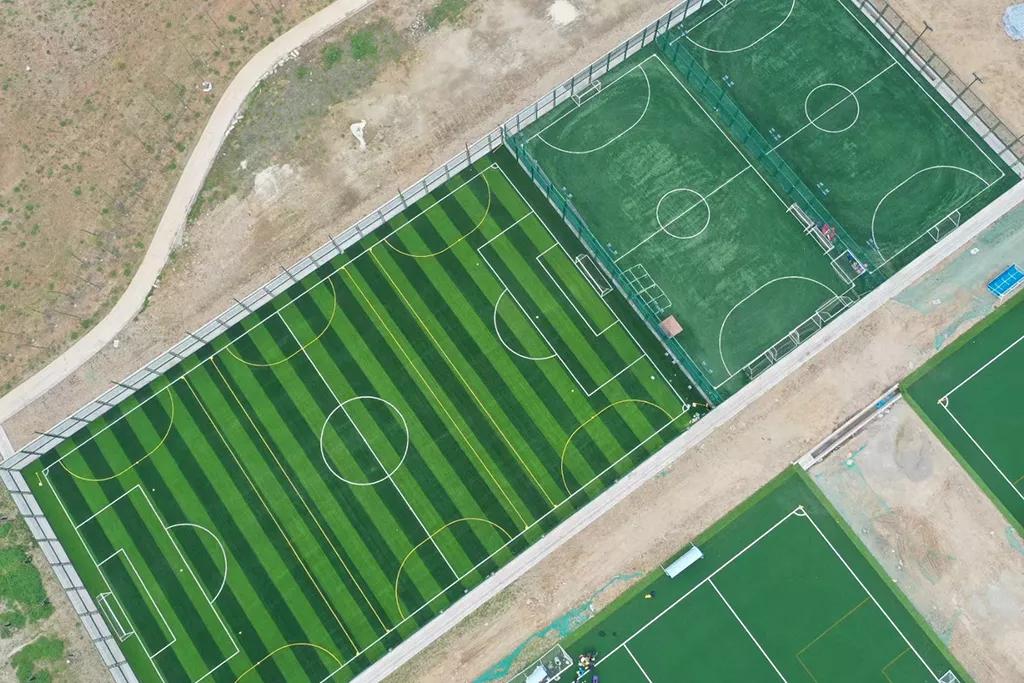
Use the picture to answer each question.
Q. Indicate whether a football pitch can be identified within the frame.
Yes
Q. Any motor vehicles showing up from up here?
No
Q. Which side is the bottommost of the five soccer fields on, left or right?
right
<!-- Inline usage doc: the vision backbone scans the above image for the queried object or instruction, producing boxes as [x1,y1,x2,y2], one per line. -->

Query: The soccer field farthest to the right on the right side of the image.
[895,286,1024,537]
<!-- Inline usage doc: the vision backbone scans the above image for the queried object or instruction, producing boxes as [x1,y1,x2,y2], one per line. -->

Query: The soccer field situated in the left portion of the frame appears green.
[18,142,713,683]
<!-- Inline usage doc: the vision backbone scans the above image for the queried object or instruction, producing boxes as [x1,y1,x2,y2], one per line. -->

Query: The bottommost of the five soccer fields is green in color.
[506,461,974,683]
